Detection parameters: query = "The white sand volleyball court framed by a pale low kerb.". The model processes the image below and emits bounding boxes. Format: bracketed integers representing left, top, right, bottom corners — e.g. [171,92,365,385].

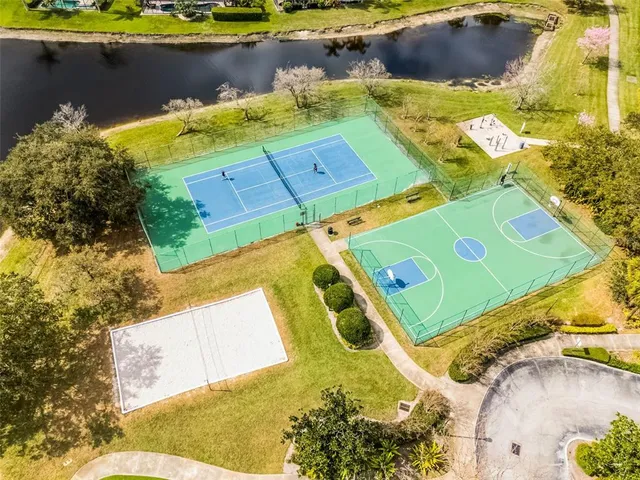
[110,287,289,414]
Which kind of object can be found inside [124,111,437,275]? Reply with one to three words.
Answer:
tennis court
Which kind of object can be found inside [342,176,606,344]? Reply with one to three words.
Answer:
basketball court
